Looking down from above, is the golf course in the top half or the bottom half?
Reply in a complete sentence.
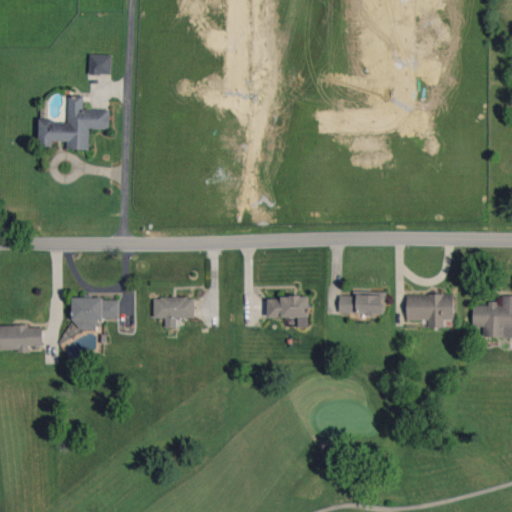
The golf course is in the bottom half of the image.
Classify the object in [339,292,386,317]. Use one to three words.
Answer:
house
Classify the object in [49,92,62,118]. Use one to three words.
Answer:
swimming pool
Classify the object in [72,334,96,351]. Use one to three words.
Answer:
swimming pool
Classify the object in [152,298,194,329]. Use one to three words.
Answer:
house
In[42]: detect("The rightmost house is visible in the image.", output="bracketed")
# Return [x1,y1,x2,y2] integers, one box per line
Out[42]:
[474,295,512,338]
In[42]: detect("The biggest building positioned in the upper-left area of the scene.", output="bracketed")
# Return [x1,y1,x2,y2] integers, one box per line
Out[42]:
[38,98,108,150]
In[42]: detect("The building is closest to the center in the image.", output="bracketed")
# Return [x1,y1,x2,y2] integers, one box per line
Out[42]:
[267,296,309,328]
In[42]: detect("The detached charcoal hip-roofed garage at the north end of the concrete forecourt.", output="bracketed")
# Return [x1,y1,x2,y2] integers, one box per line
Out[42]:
[88,54,112,74]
